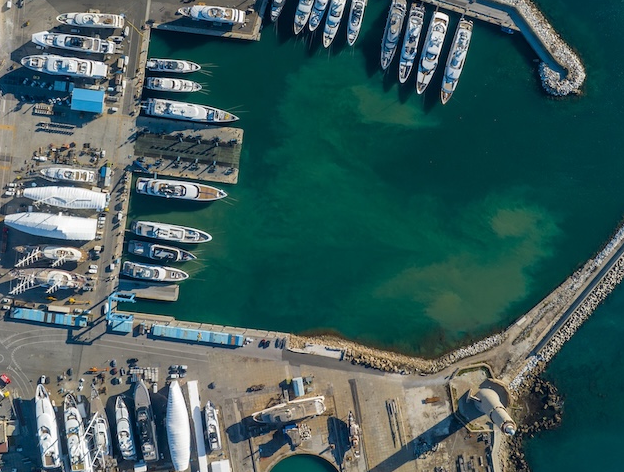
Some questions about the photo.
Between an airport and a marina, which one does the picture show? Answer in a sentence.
It's a marina.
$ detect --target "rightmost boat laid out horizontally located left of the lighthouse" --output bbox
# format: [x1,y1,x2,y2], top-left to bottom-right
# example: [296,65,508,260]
[252,394,329,421]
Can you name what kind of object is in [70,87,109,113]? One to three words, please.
shed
